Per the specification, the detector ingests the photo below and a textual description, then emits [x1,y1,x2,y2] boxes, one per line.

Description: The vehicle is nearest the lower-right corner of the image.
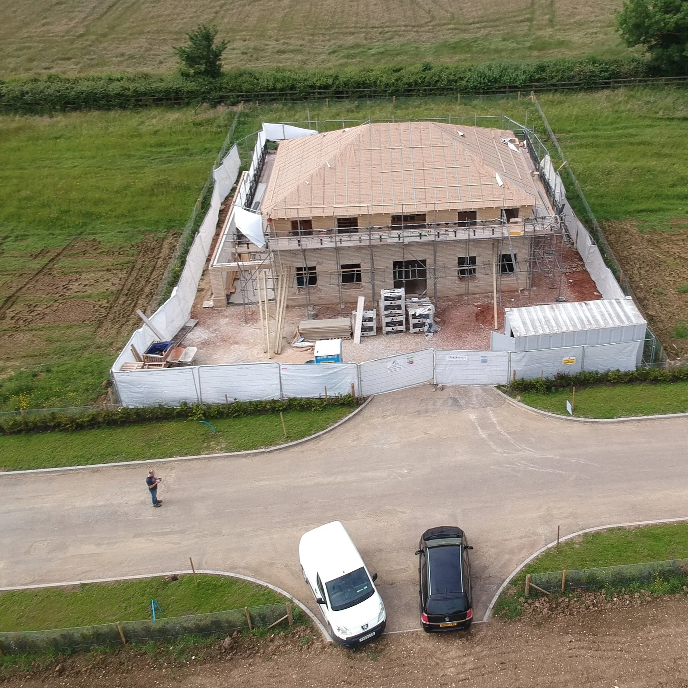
[413,527,478,636]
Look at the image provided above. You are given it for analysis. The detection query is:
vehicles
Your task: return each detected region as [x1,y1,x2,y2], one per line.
[413,527,478,636]
[300,523,388,649]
